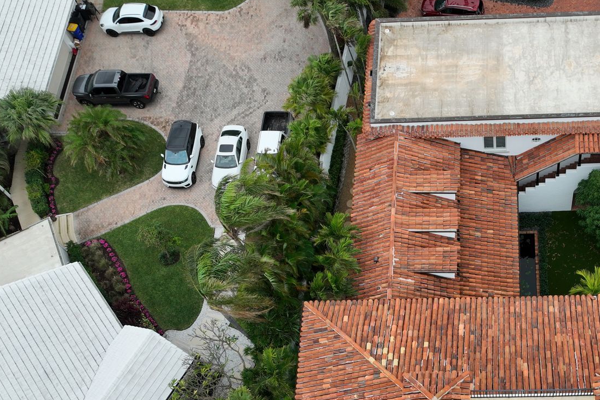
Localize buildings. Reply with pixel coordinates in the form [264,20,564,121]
[0,0,89,129]
[293,10,600,400]
[0,217,205,400]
